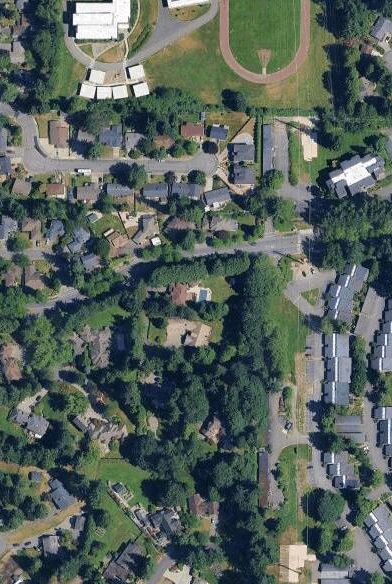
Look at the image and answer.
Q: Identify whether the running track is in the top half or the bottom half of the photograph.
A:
top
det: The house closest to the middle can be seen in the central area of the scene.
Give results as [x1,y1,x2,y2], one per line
[170,282,196,306]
